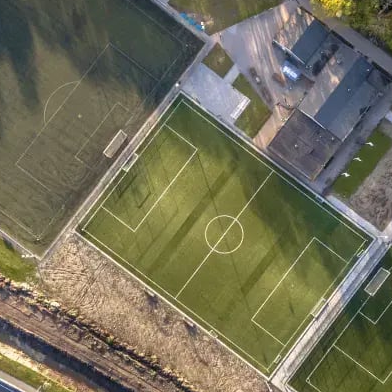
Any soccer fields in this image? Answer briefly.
Yes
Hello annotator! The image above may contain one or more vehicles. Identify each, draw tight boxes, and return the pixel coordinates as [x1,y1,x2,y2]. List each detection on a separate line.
[281,63,300,80]
[272,71,286,86]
